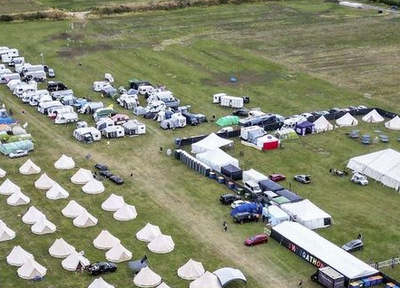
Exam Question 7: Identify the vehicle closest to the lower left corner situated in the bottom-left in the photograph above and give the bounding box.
[87,259,114,273]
